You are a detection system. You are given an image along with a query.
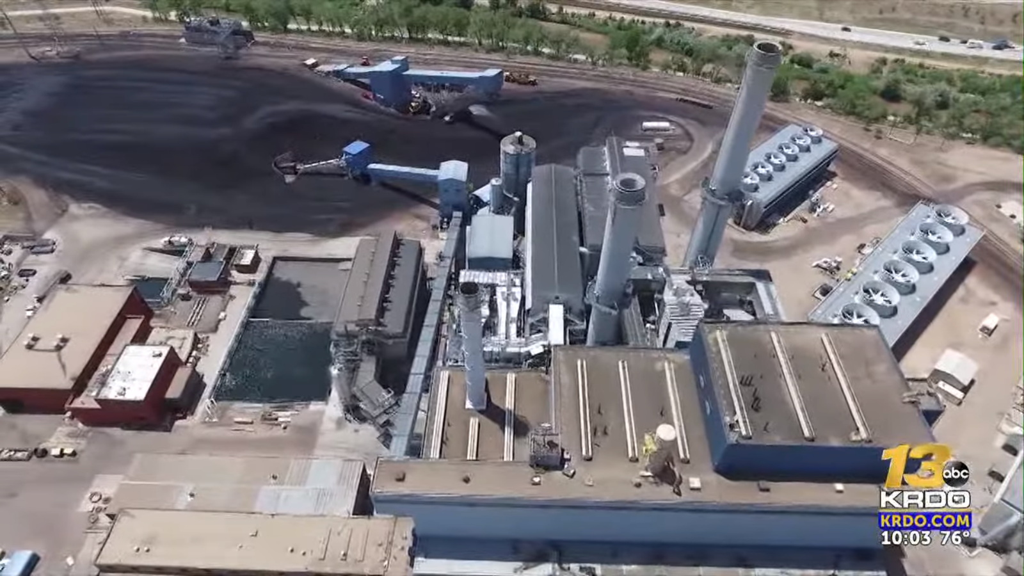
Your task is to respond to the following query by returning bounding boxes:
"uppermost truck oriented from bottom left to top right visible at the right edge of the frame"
[981,310,1003,334]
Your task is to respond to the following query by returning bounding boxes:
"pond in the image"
[208,256,355,412]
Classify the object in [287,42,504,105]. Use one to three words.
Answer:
building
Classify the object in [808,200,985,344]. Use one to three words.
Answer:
cooling tower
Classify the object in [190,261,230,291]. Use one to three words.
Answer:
shed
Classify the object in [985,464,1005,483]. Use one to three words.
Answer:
car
